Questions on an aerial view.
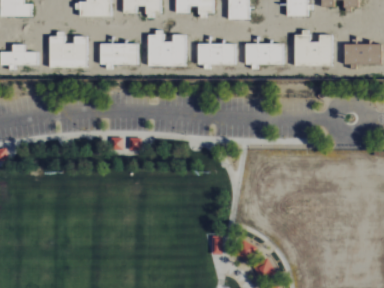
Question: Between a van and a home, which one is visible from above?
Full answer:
I can see a home in this picture.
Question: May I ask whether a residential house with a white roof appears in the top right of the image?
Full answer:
Yes, a residential house with a white roof shows up in the top right of the image.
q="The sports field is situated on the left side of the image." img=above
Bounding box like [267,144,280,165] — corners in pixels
[0,136,233,288]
